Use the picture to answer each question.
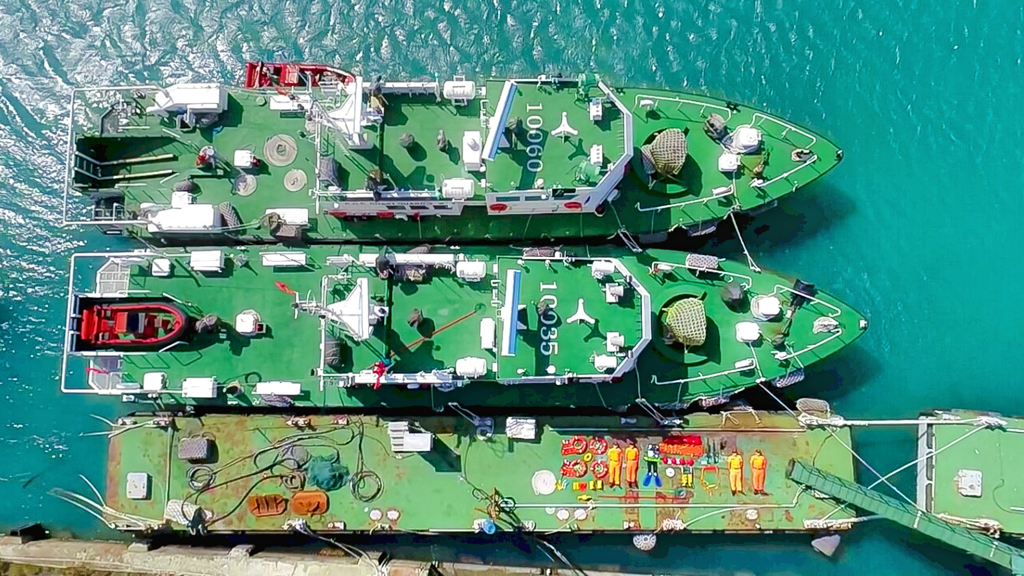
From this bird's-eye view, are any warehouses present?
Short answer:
No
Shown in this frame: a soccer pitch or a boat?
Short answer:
boat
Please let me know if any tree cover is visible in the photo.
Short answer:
No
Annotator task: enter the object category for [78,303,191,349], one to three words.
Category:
boat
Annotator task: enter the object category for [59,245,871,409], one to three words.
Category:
boat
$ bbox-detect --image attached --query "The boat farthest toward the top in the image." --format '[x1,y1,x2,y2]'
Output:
[238,55,355,88]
